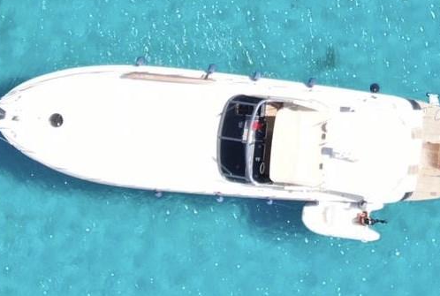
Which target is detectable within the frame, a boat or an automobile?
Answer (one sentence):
Visible in the photo is a boat.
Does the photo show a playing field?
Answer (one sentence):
No, there appears to be no playing field in this shot.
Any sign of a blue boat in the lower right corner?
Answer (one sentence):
No, I can find no blue boat in the lower right corner.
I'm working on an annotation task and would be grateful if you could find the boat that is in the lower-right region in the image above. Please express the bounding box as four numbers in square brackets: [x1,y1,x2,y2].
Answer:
[302,203,387,240]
